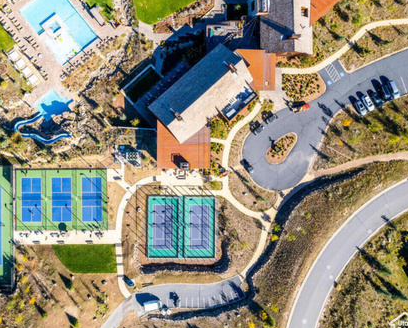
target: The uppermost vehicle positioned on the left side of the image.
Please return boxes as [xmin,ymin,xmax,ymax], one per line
[124,274,136,289]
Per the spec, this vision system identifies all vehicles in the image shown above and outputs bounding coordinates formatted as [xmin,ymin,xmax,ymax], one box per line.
[264,112,279,124]
[371,90,382,106]
[166,306,172,316]
[379,84,392,101]
[161,307,167,316]
[292,102,312,112]
[252,121,267,134]
[144,298,162,311]
[386,79,401,96]
[354,99,366,116]
[362,94,374,111]
[124,274,136,289]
